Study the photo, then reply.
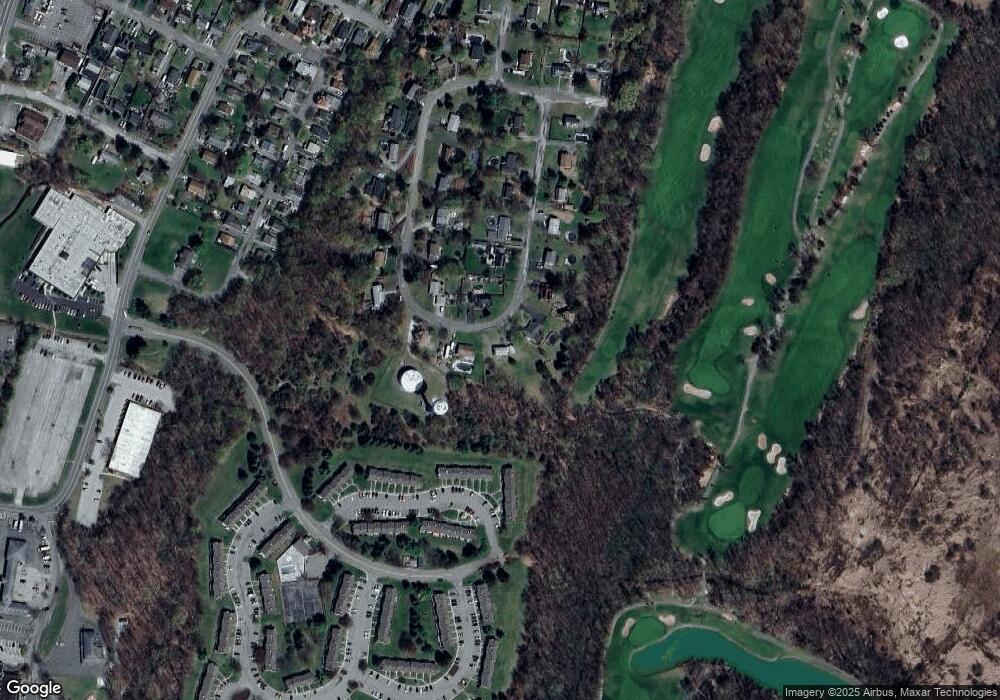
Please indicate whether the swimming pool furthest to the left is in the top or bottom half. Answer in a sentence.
The swimming pool furthest to the left sits in the bottom half of the picture.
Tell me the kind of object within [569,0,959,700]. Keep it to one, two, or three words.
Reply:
golf course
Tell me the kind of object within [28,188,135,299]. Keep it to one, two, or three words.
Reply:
building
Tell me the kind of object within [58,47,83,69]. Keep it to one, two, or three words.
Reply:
house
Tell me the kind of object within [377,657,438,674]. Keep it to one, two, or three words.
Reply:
building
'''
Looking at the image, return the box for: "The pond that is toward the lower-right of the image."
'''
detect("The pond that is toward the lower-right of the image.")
[630,627,864,700]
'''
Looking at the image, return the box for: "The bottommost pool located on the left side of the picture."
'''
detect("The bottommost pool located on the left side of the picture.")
[277,547,330,582]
